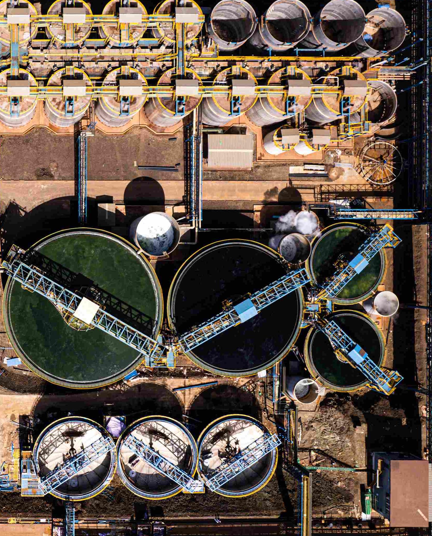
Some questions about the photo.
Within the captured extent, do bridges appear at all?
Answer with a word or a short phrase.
Yes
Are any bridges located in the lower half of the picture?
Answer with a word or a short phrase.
Yes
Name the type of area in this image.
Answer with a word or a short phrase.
industrial area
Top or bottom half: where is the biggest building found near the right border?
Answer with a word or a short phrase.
bottom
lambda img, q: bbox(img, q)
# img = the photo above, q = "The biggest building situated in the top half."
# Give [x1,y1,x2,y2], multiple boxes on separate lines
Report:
[203,135,255,169]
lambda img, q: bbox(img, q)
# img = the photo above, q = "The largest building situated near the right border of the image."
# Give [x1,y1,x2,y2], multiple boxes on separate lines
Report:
[364,447,425,527]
